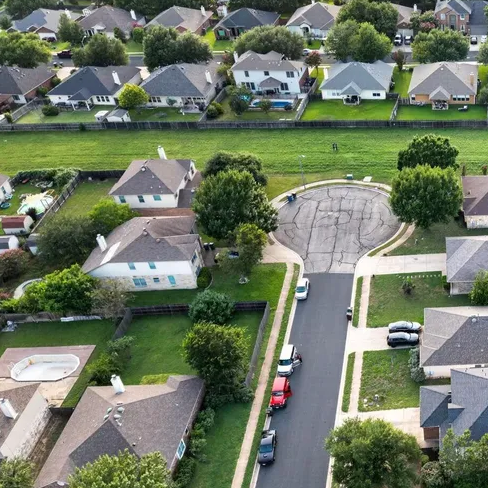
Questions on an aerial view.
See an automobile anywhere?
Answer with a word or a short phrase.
Yes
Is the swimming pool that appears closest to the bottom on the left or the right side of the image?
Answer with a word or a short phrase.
left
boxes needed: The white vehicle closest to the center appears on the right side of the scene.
[294,277,311,299]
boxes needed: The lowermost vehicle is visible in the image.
[254,424,280,466]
